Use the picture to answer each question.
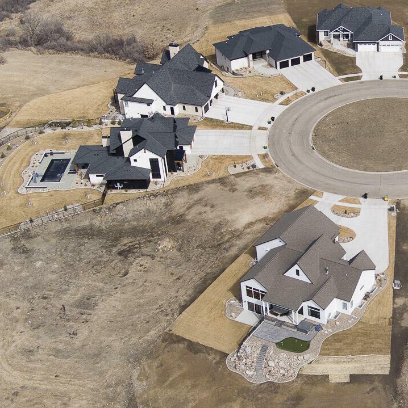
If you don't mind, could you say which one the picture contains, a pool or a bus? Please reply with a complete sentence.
There is a pool in the scene.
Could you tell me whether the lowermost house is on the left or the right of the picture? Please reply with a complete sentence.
The lowermost house sits on the right side.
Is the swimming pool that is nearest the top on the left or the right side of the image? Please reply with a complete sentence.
The swimming pool that is nearest the top is on the left side of the image.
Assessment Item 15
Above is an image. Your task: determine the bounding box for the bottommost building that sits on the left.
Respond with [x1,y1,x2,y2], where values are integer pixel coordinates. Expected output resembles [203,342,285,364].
[68,109,199,192]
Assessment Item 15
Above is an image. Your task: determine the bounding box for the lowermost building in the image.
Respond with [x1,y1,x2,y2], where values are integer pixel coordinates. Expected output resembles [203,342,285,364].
[239,202,385,336]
